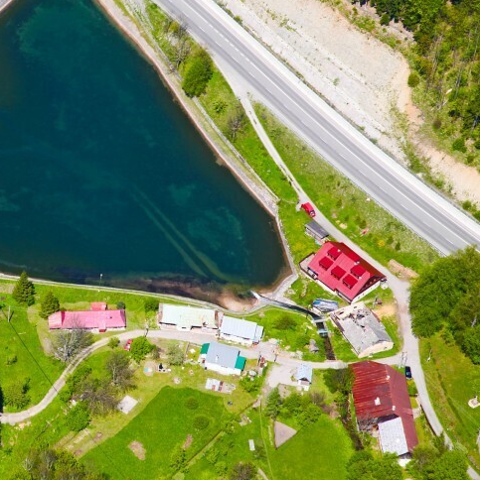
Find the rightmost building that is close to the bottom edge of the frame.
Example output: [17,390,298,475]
[349,365,419,480]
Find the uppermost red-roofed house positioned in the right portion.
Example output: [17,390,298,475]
[300,241,387,304]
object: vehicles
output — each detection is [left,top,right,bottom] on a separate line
[403,365,414,378]
[124,337,132,349]
[303,199,318,216]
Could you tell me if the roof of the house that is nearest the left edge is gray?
No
